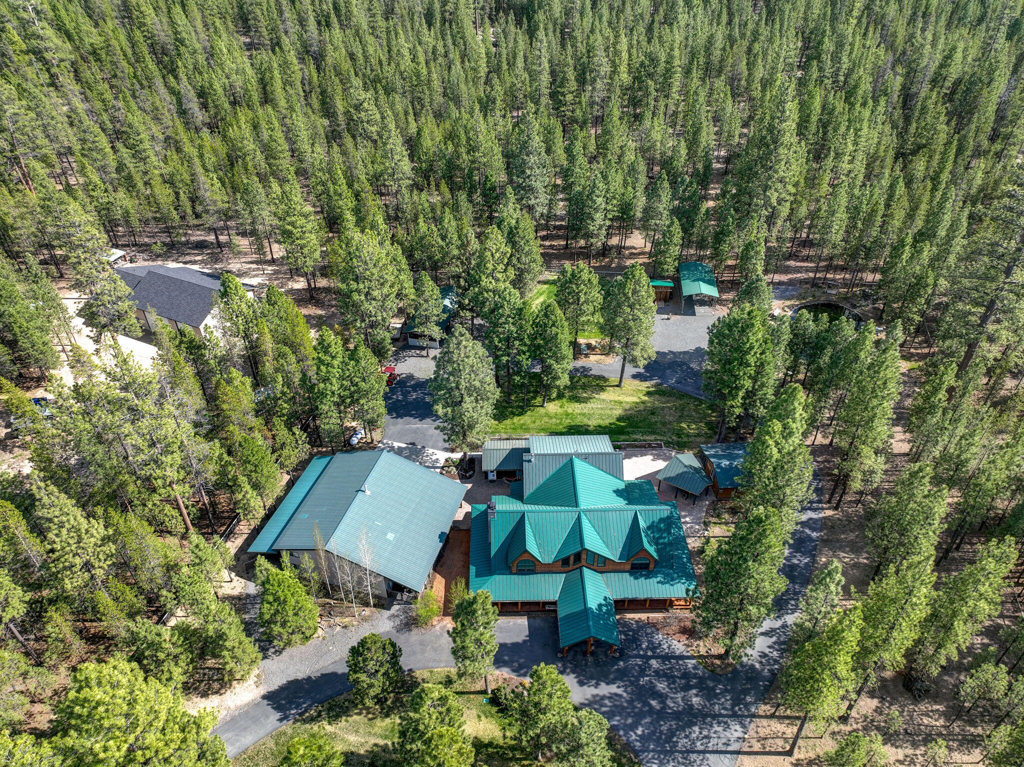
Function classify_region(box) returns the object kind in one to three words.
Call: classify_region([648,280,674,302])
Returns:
shed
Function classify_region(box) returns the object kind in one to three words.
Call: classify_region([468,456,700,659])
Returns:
house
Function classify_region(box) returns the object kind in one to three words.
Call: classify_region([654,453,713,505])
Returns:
gazebo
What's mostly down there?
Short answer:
trees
